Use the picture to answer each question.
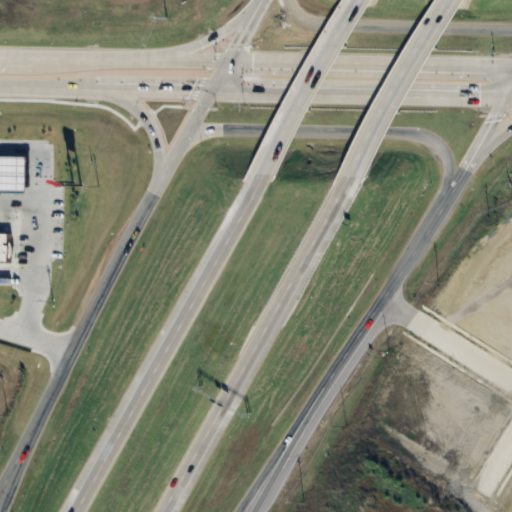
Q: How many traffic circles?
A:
0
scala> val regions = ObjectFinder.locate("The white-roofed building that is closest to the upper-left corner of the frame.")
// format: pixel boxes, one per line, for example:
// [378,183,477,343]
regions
[0,156,30,192]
